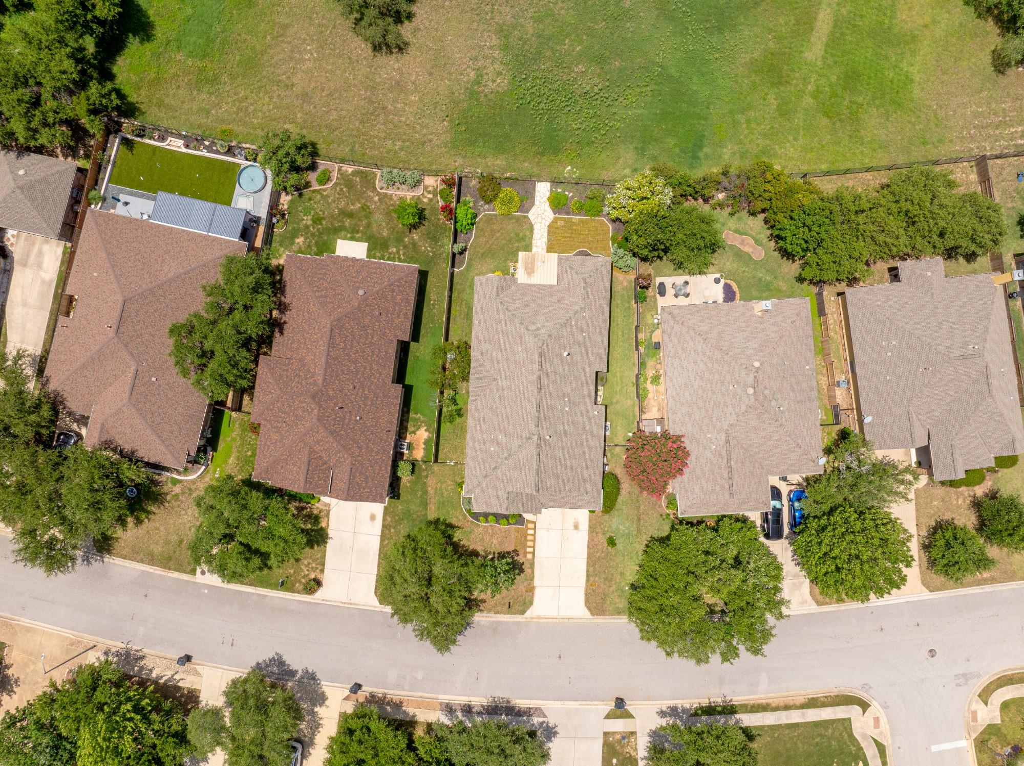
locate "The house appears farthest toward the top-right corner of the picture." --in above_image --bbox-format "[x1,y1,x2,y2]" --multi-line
[836,256,1024,481]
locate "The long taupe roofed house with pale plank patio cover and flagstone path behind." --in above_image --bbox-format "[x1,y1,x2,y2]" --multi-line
[462,254,612,515]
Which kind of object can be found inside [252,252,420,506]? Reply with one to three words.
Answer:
house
